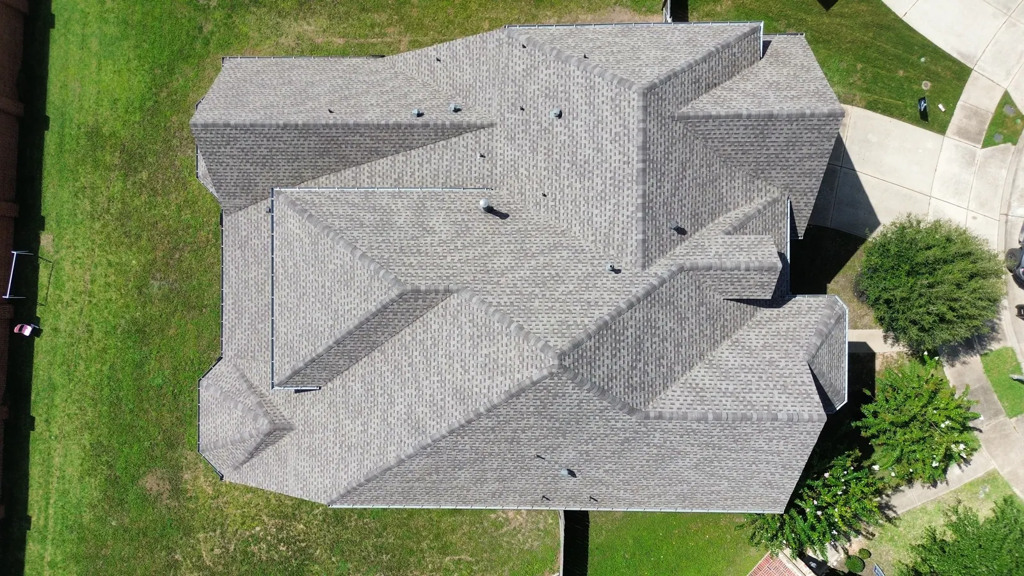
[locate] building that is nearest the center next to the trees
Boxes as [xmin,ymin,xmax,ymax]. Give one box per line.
[191,22,847,513]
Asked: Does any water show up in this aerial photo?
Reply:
No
